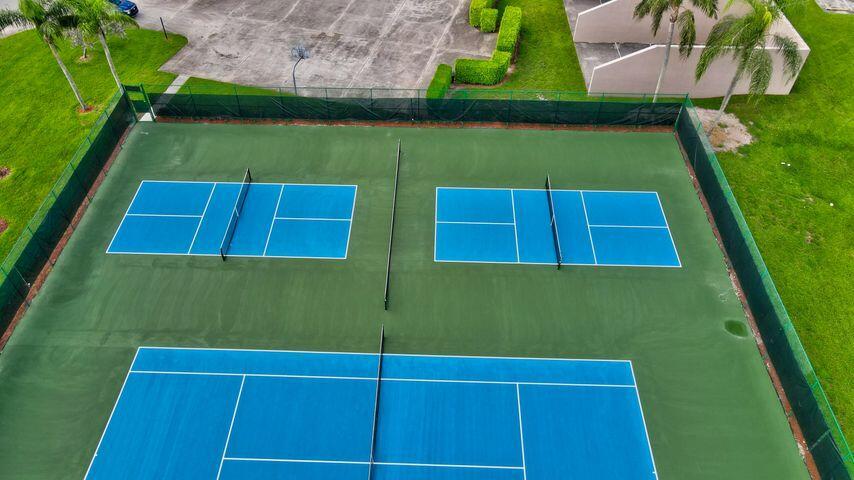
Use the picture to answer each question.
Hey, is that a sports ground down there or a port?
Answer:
sports ground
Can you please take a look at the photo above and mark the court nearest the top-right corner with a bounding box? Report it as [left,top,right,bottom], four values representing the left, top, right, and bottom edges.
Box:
[561,0,811,100]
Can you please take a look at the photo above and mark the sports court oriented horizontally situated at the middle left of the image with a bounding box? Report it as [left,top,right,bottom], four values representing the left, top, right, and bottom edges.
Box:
[106,181,358,258]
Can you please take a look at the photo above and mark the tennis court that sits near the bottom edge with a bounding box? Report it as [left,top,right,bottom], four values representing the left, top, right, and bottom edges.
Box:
[85,348,657,480]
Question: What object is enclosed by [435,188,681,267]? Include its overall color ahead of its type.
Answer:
blue sports court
